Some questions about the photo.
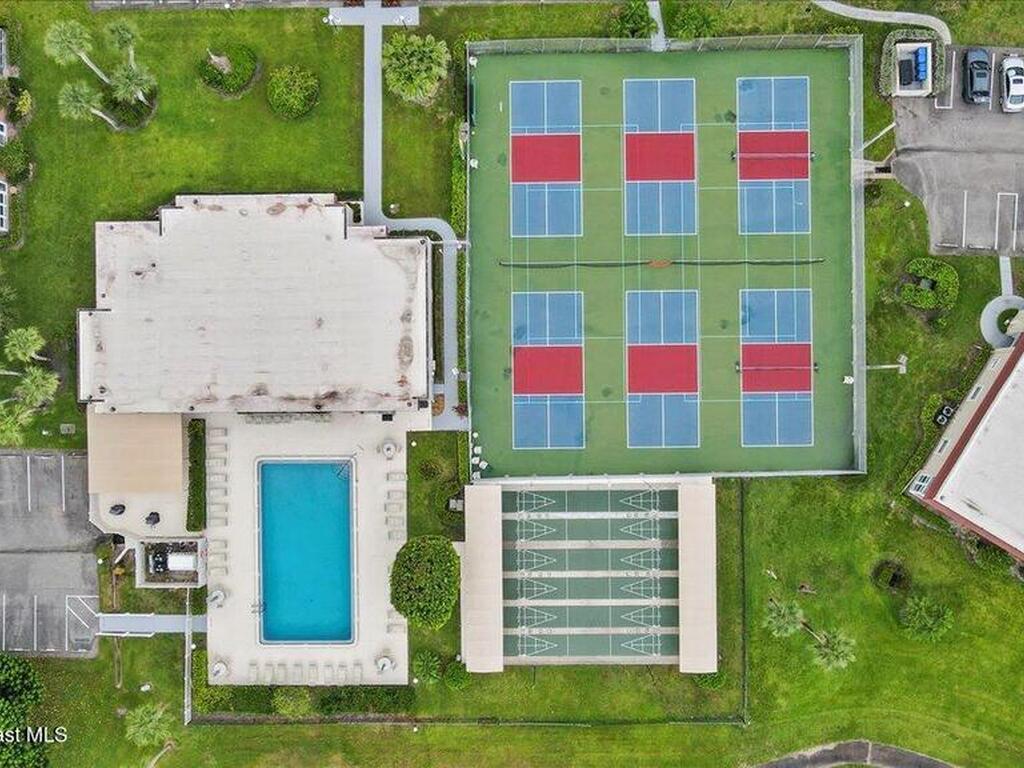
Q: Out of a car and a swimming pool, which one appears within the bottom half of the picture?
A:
swimming pool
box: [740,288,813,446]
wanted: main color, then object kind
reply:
blue sports court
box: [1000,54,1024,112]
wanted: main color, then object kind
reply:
white car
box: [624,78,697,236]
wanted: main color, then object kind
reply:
blue sports court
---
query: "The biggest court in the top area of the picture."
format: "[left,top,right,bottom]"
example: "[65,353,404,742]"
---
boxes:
[470,48,854,477]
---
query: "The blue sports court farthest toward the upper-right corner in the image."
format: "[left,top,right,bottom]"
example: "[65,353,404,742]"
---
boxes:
[738,76,811,233]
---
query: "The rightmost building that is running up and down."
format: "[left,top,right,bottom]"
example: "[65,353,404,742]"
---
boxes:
[905,300,1024,568]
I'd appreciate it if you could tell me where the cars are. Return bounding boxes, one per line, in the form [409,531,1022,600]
[960,49,994,106]
[1000,54,1024,112]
